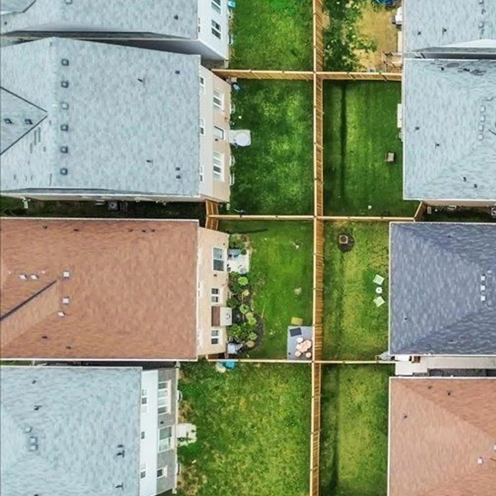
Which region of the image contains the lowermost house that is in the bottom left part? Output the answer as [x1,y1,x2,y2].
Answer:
[0,367,179,496]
